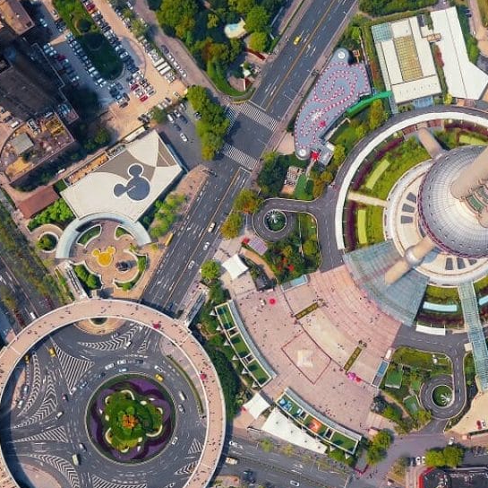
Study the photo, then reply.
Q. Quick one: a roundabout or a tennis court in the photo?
roundabout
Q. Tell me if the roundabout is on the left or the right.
left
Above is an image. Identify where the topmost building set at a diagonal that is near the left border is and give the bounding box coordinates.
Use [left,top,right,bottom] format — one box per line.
[0,0,49,46]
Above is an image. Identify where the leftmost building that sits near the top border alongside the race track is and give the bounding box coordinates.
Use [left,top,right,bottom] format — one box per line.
[370,16,441,113]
